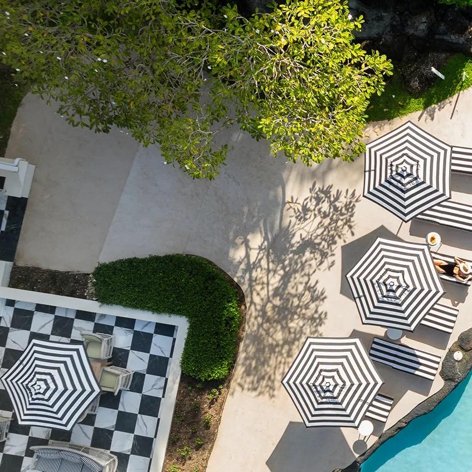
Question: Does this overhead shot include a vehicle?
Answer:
No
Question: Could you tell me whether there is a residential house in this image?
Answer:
No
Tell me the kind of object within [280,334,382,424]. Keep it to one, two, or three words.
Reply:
umbrella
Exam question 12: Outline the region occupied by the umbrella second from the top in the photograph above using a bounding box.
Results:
[345,237,443,332]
